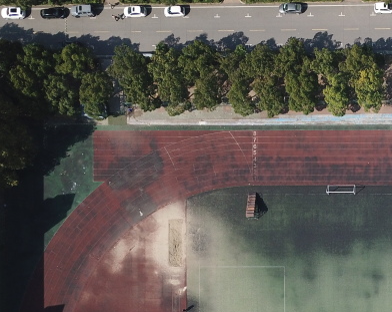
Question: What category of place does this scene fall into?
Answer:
sports ground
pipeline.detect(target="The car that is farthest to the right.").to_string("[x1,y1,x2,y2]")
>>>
[372,0,392,13]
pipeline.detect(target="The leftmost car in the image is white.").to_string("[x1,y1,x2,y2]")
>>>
[0,4,23,18]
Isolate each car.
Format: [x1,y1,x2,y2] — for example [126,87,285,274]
[161,3,186,17]
[278,0,302,14]
[39,3,65,18]
[121,3,147,17]
[372,0,392,13]
[67,2,93,16]
[0,4,23,18]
